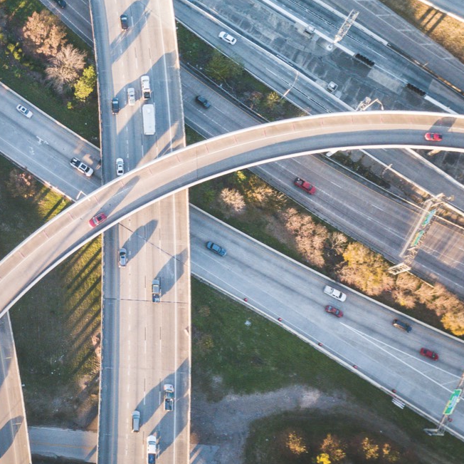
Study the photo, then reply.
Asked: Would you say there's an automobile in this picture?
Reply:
Yes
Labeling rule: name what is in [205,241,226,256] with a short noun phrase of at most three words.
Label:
car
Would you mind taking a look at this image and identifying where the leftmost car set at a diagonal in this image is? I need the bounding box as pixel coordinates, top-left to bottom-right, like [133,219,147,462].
[14,102,33,119]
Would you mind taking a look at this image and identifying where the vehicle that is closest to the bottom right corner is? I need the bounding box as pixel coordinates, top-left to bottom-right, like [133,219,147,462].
[417,345,440,361]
